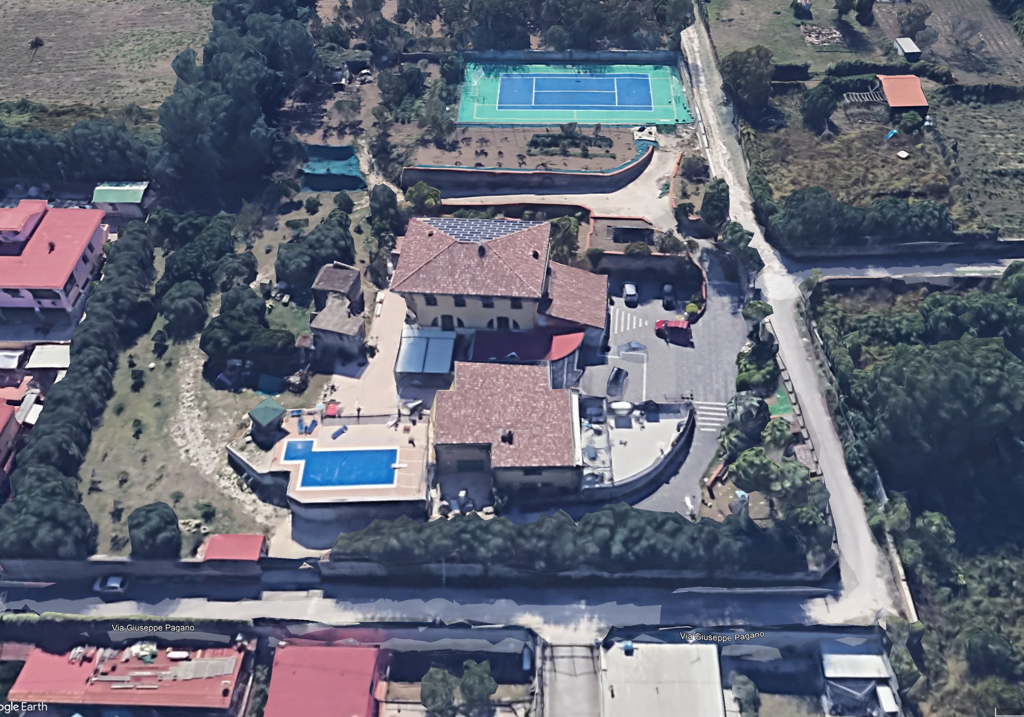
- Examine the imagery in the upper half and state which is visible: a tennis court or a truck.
tennis court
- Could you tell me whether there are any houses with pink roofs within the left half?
Yes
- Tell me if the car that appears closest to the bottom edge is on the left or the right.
left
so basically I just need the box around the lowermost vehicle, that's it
[91,574,133,595]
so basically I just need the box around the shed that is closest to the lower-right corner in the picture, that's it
[866,686,898,717]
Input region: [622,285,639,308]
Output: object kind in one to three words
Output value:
car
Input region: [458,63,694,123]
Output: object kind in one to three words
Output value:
tennis court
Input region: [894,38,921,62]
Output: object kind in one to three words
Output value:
shed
